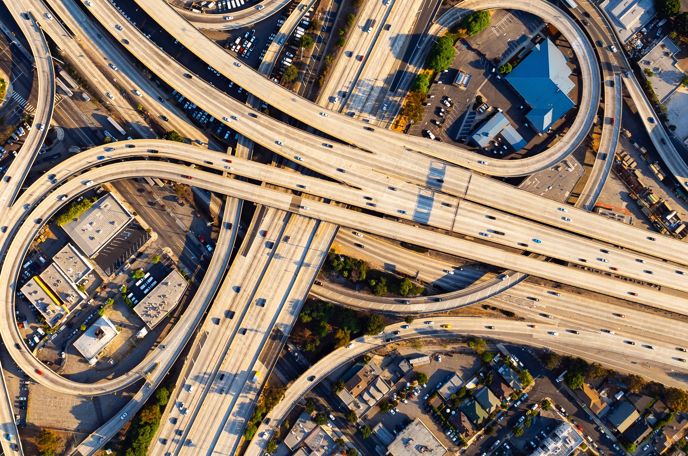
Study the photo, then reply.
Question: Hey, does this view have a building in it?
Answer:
Yes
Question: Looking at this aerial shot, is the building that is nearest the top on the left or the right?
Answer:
right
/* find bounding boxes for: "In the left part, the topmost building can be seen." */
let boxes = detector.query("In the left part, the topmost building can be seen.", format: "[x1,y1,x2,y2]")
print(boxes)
[60,192,134,258]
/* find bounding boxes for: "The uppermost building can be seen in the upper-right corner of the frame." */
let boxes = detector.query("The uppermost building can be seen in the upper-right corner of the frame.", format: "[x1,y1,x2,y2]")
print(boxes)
[596,0,656,45]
